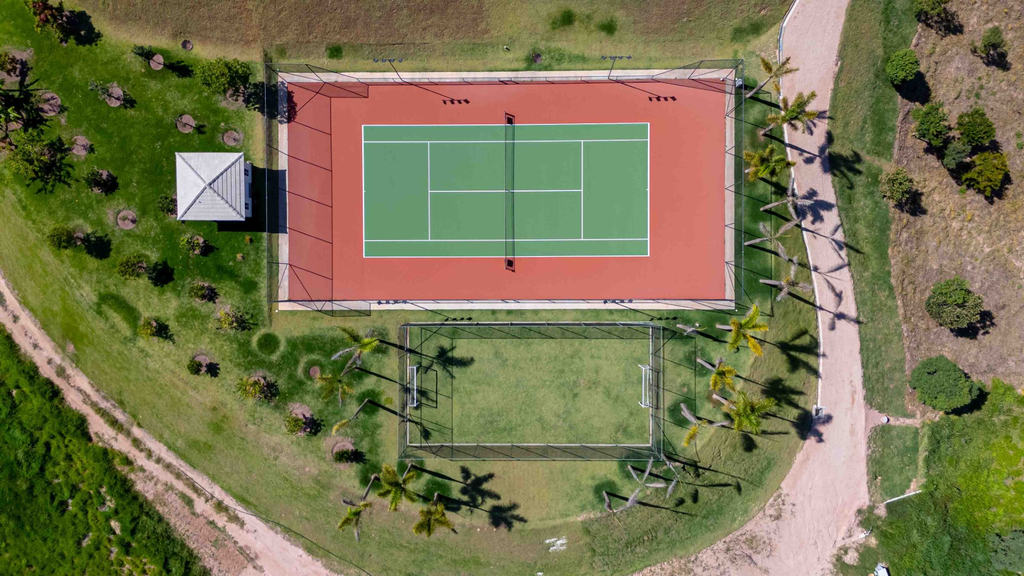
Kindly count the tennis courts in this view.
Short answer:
1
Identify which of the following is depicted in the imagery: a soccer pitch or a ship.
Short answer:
soccer pitch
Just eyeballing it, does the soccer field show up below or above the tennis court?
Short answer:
below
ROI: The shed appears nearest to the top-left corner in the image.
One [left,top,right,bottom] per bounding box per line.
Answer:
[174,150,252,219]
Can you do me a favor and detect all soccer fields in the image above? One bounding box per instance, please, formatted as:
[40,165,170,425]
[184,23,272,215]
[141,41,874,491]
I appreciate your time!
[406,322,653,447]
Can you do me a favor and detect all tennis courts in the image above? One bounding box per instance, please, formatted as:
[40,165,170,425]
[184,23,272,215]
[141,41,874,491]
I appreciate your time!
[277,69,736,310]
